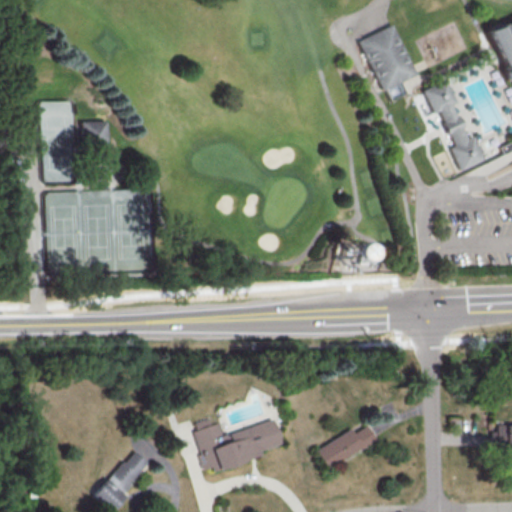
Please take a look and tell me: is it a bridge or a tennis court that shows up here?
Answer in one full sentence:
This aerial view contains a tennis court.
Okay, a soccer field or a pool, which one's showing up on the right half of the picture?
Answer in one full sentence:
You can see a pool on the right half of the picture.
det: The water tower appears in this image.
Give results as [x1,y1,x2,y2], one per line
[362,240,388,265]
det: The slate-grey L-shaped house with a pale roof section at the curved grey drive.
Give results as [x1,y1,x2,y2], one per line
[96,451,148,505]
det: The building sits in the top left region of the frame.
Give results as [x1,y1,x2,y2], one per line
[80,122,110,148]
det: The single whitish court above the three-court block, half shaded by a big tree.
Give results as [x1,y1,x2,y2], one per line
[38,100,76,184]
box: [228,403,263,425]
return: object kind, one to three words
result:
swimming pool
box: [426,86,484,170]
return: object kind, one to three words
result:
building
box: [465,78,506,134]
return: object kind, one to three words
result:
swimming pool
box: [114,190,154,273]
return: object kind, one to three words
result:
tennis court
